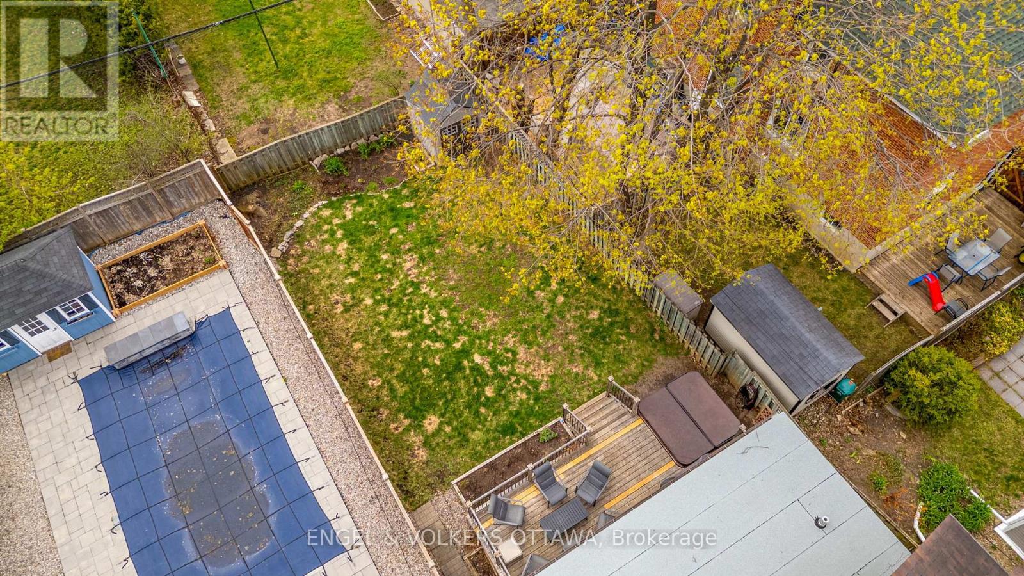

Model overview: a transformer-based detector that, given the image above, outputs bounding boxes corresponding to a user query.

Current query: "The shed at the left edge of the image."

[0,224,115,371]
